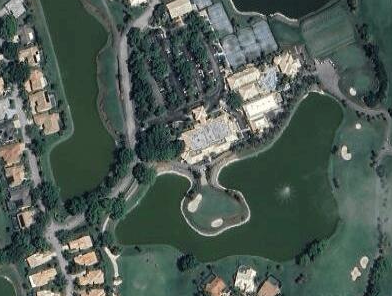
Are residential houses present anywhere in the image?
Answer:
Yes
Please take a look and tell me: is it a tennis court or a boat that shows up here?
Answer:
tennis court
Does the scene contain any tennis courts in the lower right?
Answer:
No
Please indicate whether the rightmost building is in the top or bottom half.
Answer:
top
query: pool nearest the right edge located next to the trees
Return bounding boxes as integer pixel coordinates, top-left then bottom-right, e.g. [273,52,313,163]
[259,71,277,89]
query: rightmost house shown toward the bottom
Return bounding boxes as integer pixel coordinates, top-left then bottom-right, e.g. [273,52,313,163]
[257,273,283,296]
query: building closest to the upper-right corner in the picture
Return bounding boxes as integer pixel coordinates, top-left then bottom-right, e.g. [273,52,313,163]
[274,45,302,76]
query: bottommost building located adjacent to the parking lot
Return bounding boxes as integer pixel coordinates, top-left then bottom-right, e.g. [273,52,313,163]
[181,110,242,167]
